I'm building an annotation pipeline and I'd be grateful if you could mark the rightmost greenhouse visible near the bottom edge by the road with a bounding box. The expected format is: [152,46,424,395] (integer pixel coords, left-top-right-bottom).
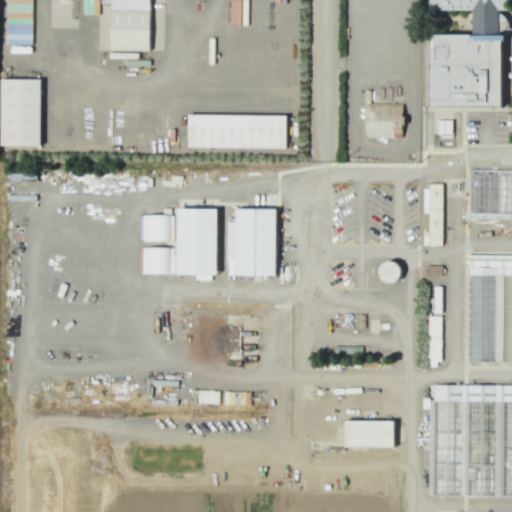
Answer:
[430,386,512,496]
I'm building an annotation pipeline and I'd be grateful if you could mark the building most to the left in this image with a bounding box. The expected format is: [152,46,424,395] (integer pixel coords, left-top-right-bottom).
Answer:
[0,79,41,147]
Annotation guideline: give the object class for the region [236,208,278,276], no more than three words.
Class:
building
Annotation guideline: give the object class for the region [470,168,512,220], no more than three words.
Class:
greenhouse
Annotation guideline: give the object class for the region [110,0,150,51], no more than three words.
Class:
building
